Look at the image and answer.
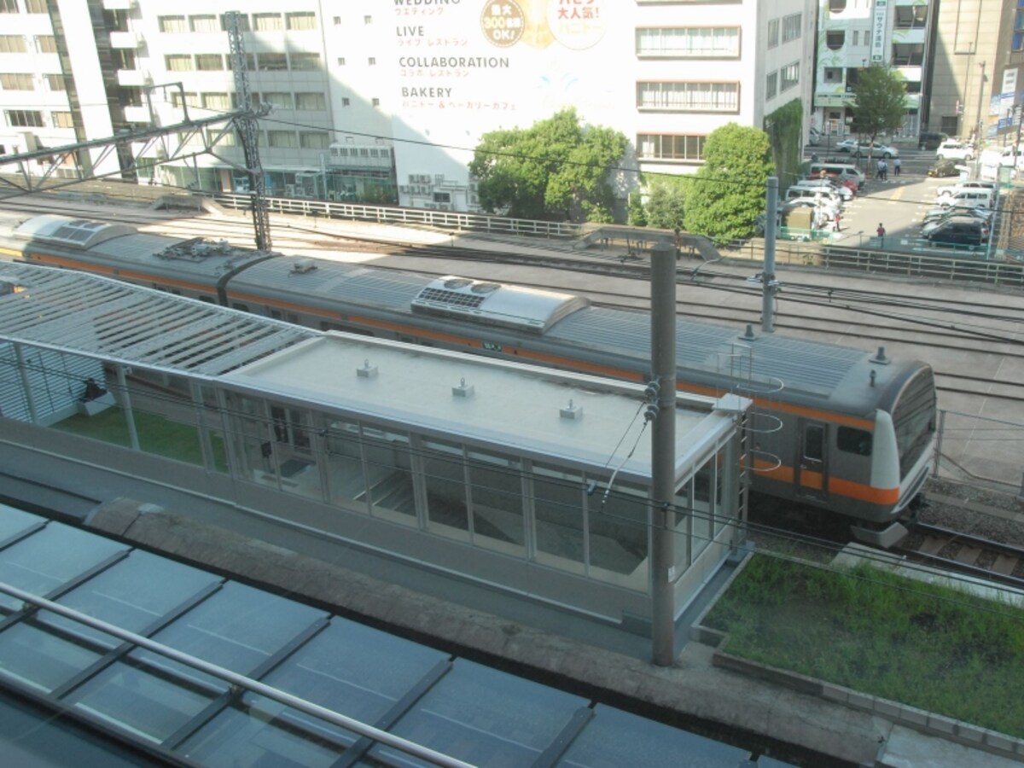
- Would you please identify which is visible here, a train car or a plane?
train car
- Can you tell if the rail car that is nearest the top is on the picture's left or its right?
left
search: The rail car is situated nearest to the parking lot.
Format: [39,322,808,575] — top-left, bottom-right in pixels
[218,257,948,549]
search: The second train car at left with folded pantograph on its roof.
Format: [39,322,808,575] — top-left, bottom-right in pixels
[0,219,274,365]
